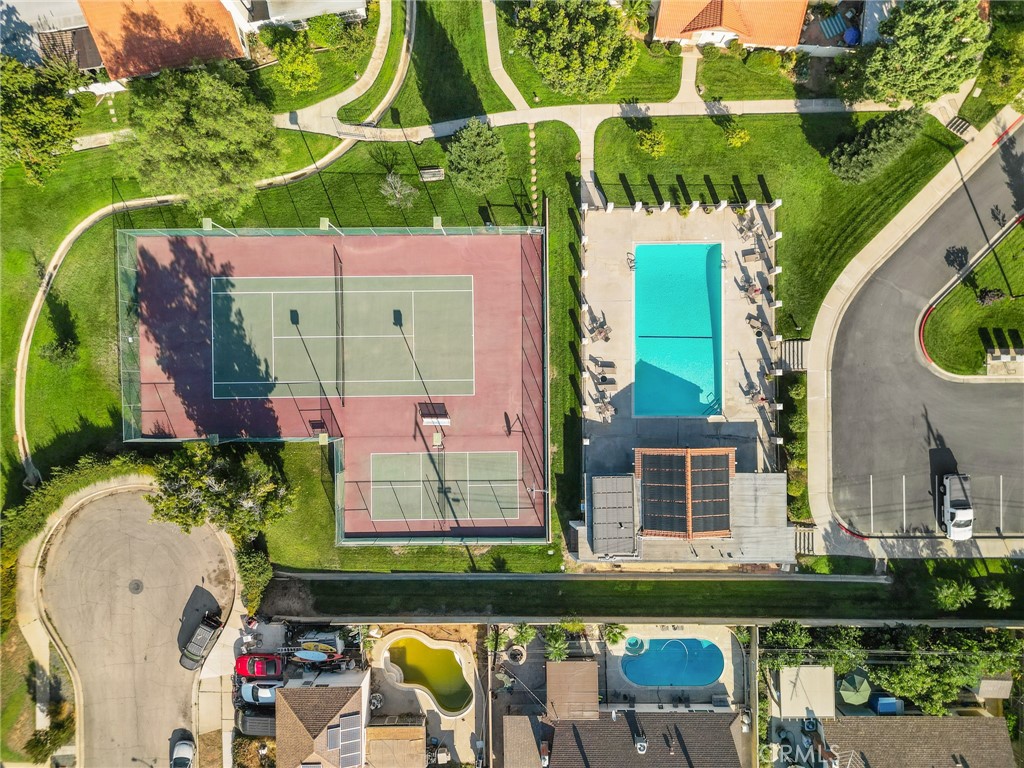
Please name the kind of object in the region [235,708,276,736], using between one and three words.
car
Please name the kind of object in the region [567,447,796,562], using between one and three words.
building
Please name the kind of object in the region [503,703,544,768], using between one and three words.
house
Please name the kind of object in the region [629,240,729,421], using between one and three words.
swimming pool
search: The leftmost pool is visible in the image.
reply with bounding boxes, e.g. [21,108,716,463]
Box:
[383,633,476,715]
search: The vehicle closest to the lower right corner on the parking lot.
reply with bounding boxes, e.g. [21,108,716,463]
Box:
[940,475,973,538]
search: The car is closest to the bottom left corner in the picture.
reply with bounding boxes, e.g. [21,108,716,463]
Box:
[169,736,196,768]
